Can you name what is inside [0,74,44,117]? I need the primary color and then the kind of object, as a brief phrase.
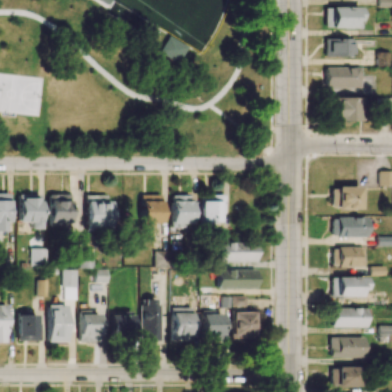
white basketball court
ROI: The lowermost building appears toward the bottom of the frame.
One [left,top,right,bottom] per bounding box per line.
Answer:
[332,368,368,388]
